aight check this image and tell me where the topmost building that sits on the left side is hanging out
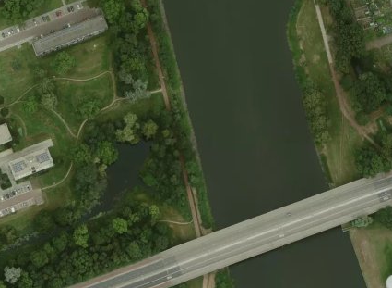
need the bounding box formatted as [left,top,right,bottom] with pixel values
[32,16,107,57]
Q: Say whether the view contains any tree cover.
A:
Yes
